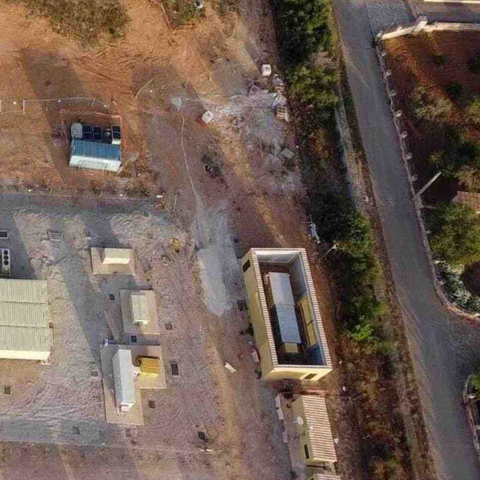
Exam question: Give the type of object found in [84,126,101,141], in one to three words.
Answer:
solar array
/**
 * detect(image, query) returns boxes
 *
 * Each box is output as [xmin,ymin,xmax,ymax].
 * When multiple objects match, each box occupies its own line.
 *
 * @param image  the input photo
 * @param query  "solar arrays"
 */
[112,126,121,143]
[84,126,101,141]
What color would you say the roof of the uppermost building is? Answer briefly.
blue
